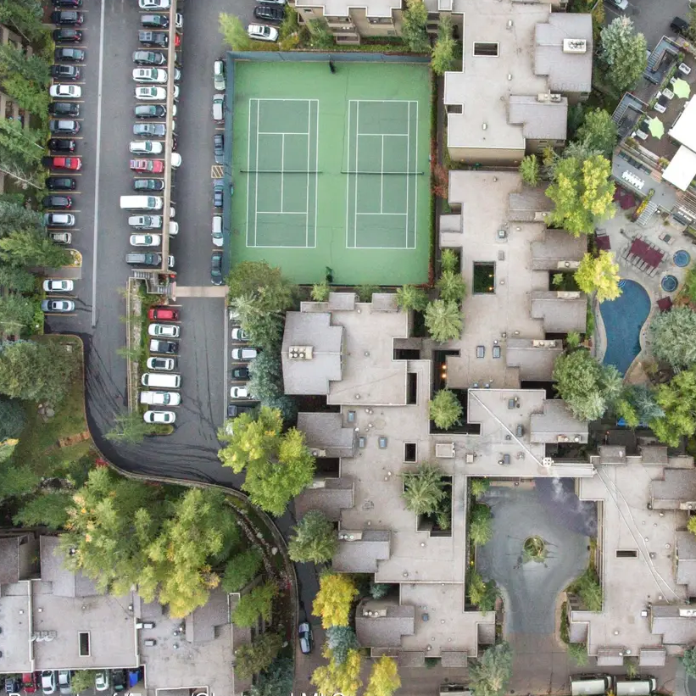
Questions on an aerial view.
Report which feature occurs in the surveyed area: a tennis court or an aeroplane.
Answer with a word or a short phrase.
tennis court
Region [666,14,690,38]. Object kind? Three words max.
car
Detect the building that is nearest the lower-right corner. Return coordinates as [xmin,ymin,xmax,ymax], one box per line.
[563,438,696,665]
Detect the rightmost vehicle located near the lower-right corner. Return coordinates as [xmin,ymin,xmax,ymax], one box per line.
[612,674,656,696]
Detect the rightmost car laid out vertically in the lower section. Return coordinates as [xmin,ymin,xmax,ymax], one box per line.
[297,621,314,653]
